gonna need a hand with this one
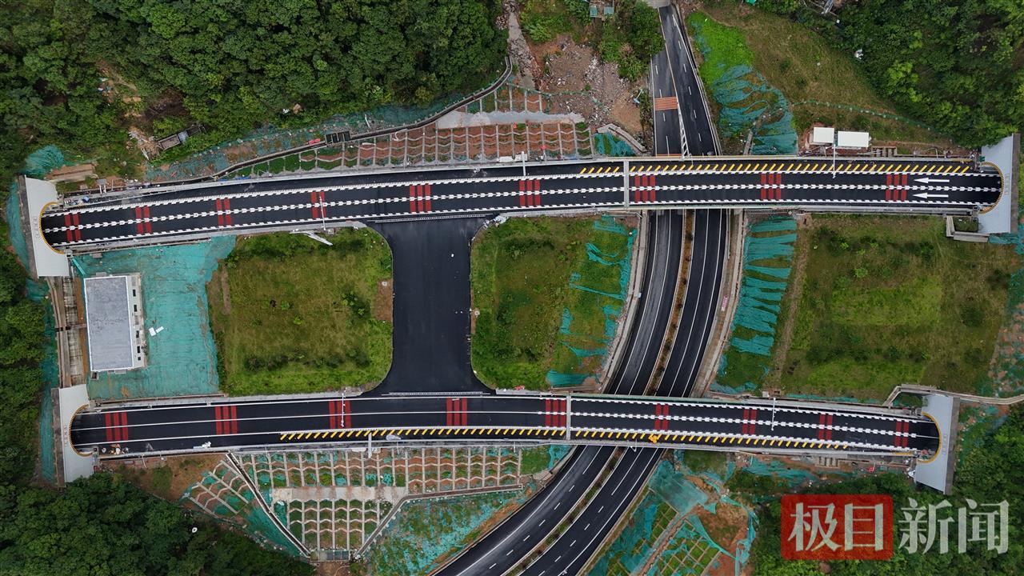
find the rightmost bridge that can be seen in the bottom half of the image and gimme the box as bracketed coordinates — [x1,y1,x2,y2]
[550,392,734,452]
